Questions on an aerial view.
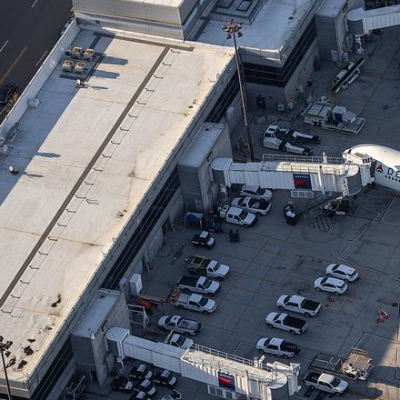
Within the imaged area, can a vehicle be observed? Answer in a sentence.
Yes, there's a vehicle down there.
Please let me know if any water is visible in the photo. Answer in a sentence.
No, water can't be seen anywhere here.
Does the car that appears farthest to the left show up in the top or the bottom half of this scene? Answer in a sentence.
You can find the car that appears farthest to the left in the top half.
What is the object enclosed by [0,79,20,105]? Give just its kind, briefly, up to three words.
car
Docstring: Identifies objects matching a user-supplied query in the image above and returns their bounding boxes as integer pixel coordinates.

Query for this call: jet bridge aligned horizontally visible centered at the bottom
[103,324,310,400]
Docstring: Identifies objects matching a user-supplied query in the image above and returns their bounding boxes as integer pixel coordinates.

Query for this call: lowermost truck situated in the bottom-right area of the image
[307,370,348,394]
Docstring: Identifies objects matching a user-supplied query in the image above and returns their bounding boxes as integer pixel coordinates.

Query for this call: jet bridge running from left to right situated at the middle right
[207,154,379,225]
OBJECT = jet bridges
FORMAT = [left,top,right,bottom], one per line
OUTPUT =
[343,2,400,58]
[103,324,310,400]
[207,154,379,225]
